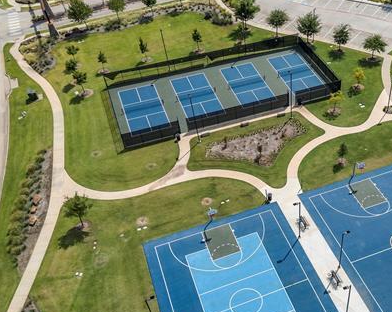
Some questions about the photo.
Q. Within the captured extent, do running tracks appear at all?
No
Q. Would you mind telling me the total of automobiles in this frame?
0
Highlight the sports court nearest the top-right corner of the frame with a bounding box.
[268,53,324,91]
